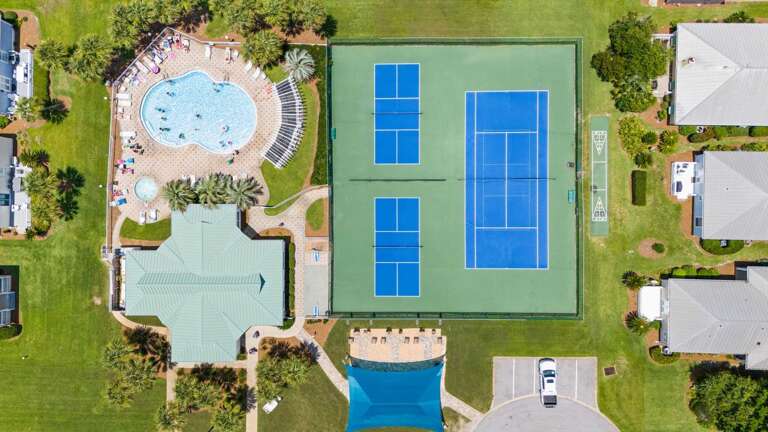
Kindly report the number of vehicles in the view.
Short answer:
2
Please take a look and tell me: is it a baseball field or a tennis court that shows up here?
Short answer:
tennis court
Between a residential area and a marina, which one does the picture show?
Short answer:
residential area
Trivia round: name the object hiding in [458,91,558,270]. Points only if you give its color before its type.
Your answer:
blue tennis court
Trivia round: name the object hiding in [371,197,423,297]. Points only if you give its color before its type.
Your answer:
blue sports court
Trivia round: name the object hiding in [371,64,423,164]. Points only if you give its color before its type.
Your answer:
blue sports court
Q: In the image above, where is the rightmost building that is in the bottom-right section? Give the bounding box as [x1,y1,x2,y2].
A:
[659,266,768,369]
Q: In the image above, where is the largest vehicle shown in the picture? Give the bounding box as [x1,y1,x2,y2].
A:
[541,358,562,406]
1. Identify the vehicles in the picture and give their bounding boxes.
[541,358,562,406]
[262,394,284,415]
